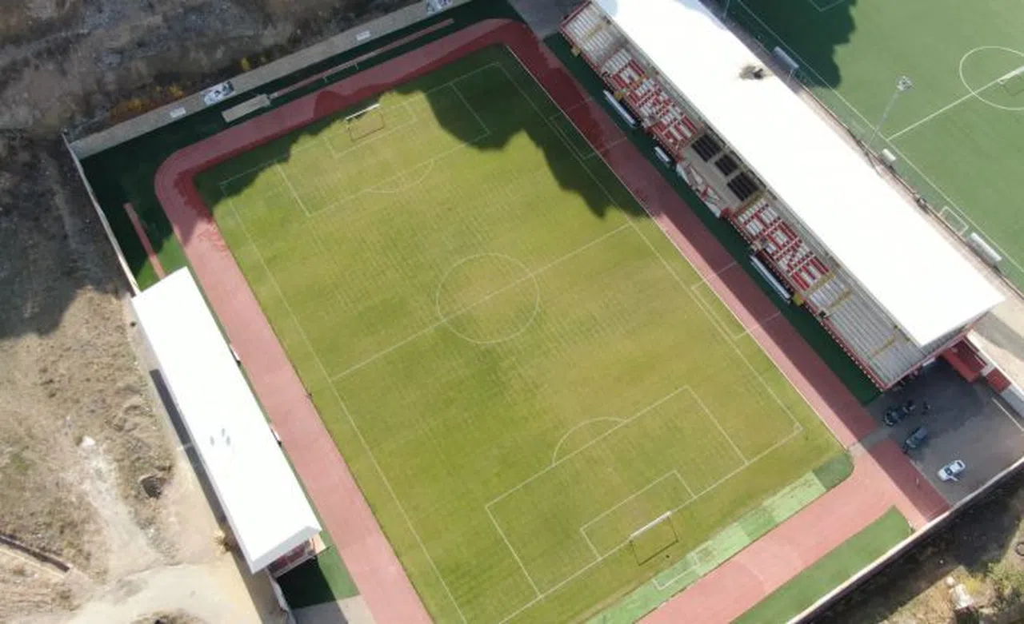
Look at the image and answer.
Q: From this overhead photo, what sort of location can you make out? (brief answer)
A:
sports ground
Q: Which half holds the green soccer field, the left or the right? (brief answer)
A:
right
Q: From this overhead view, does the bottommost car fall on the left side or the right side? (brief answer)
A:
right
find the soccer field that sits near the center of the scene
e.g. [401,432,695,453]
[197,42,850,624]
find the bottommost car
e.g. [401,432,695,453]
[937,461,966,483]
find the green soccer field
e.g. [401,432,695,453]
[712,0,1024,297]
